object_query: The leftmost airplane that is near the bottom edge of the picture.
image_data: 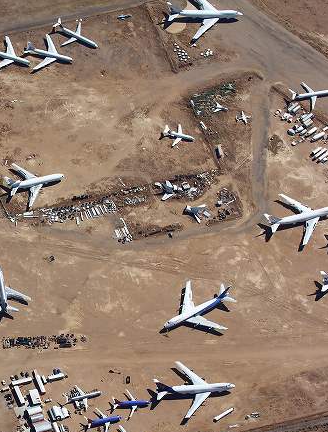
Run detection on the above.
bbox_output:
[64,387,101,411]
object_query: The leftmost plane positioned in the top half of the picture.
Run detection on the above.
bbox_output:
[0,36,30,66]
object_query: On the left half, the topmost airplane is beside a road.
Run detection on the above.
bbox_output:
[51,17,98,48]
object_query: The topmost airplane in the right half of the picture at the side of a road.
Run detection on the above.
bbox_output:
[168,0,243,39]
